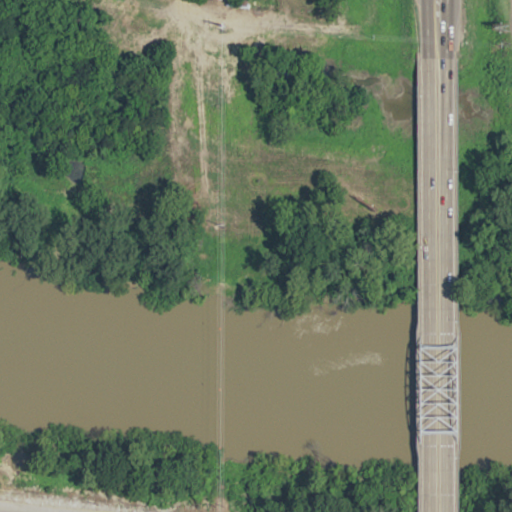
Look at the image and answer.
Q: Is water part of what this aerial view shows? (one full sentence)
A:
Yes, some water is visible.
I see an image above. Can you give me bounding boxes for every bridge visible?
[416,58,461,512]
